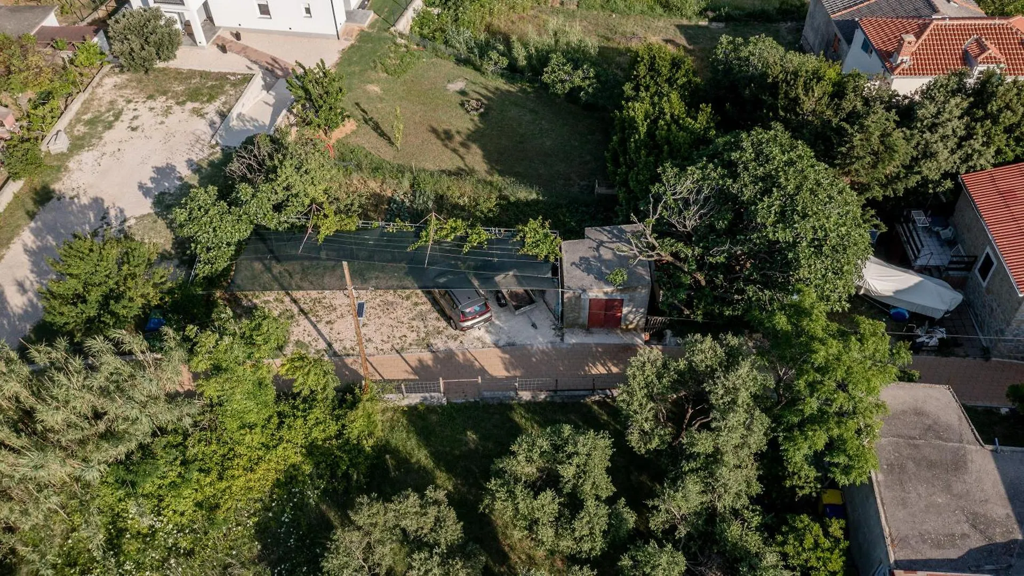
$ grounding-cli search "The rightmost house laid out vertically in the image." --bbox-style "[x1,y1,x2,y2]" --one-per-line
[951,169,1024,343]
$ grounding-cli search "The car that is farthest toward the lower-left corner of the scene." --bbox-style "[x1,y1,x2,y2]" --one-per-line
[430,290,488,325]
